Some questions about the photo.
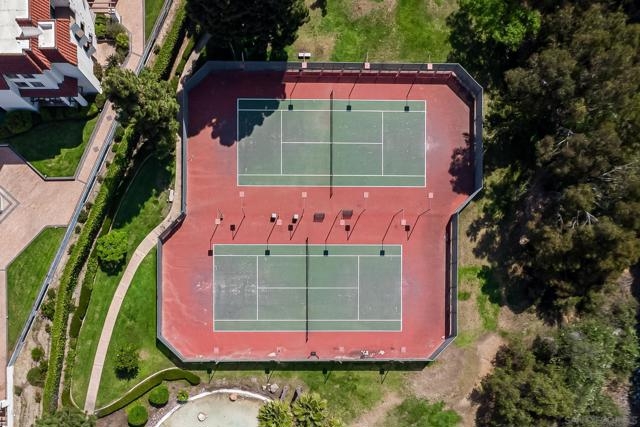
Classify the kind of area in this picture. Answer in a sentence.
This looks like a sports ground.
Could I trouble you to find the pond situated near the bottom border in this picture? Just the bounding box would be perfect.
[158,392,295,427]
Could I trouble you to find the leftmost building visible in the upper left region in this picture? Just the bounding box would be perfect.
[0,0,99,112]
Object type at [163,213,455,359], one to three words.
tennis court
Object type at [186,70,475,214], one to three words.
tennis court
